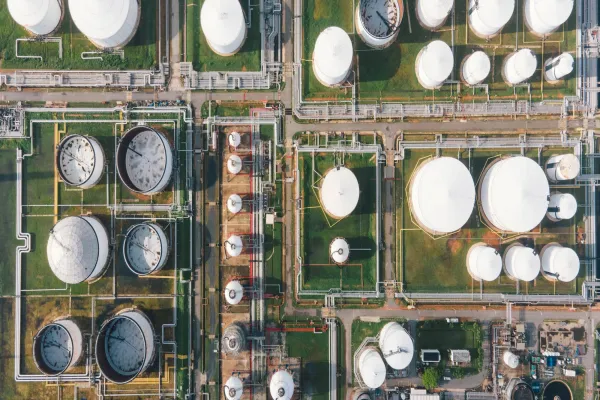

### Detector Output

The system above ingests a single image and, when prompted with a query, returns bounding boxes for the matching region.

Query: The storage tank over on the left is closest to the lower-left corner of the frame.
[31,315,84,378]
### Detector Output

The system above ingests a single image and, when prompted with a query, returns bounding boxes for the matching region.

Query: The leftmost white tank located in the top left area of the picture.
[7,0,64,40]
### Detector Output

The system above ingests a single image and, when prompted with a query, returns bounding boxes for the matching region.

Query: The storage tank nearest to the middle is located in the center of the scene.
[318,165,359,219]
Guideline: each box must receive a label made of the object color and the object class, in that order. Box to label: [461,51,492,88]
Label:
white storage tank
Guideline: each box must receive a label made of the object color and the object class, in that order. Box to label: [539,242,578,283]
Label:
white storage tank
